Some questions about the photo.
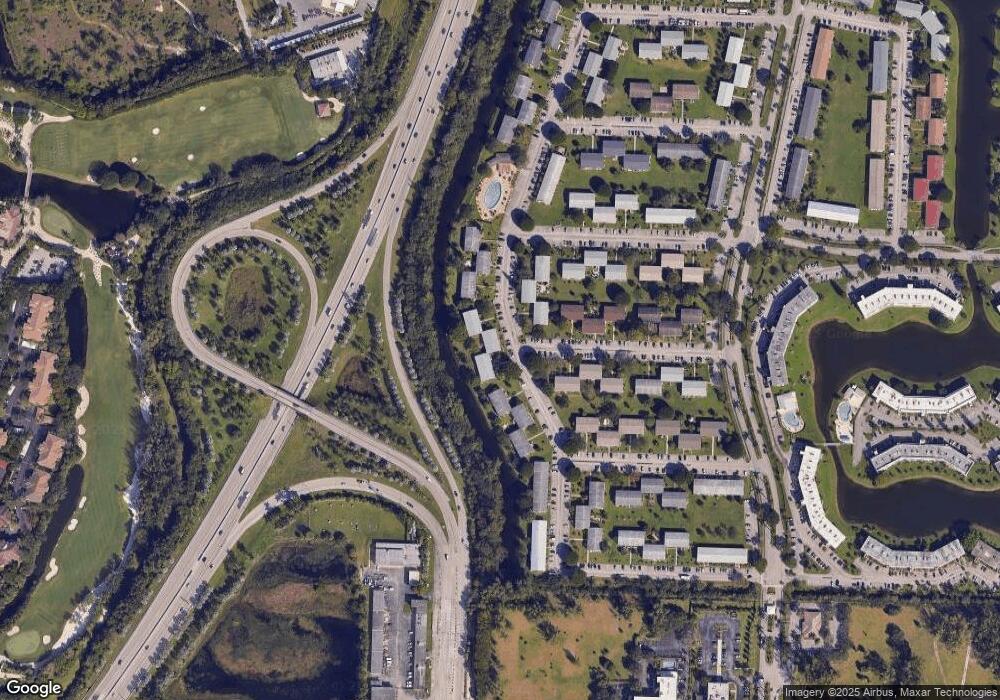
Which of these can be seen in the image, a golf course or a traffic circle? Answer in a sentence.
The image shows a golf course.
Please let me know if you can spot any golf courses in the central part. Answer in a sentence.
No, there is no golf course in the central part.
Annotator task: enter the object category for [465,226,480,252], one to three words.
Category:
building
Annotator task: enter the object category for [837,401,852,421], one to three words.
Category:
swimming pool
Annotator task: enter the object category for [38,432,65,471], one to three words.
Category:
house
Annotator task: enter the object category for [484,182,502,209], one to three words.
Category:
swimming pool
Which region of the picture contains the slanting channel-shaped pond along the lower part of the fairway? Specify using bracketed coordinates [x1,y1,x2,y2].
[0,465,84,627]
